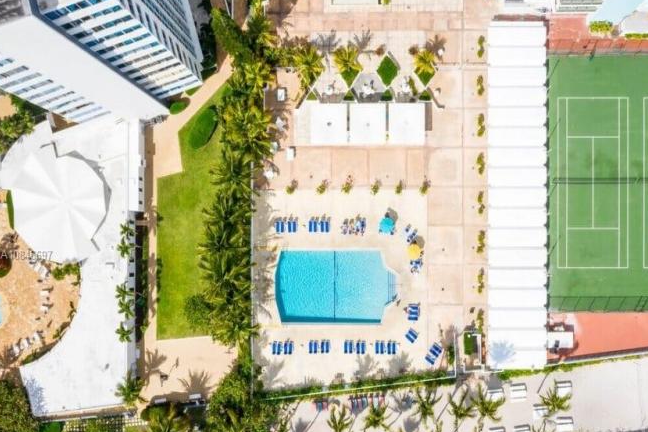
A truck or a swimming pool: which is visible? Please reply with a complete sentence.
The one in the frame is a swimming pool.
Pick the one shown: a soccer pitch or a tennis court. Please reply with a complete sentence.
This aerial view contains a tennis court.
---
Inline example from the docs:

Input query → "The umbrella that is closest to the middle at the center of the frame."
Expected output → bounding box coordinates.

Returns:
[379,216,394,234]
